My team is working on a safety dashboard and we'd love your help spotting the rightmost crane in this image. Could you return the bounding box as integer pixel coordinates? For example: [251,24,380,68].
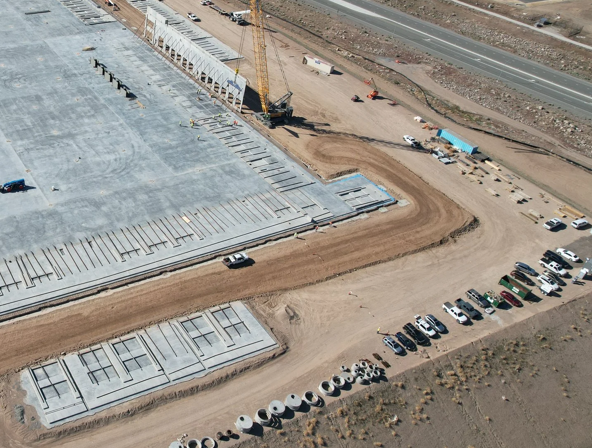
[250,0,295,128]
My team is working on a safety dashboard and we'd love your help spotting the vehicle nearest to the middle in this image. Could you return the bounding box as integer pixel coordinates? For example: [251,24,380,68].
[222,253,252,268]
